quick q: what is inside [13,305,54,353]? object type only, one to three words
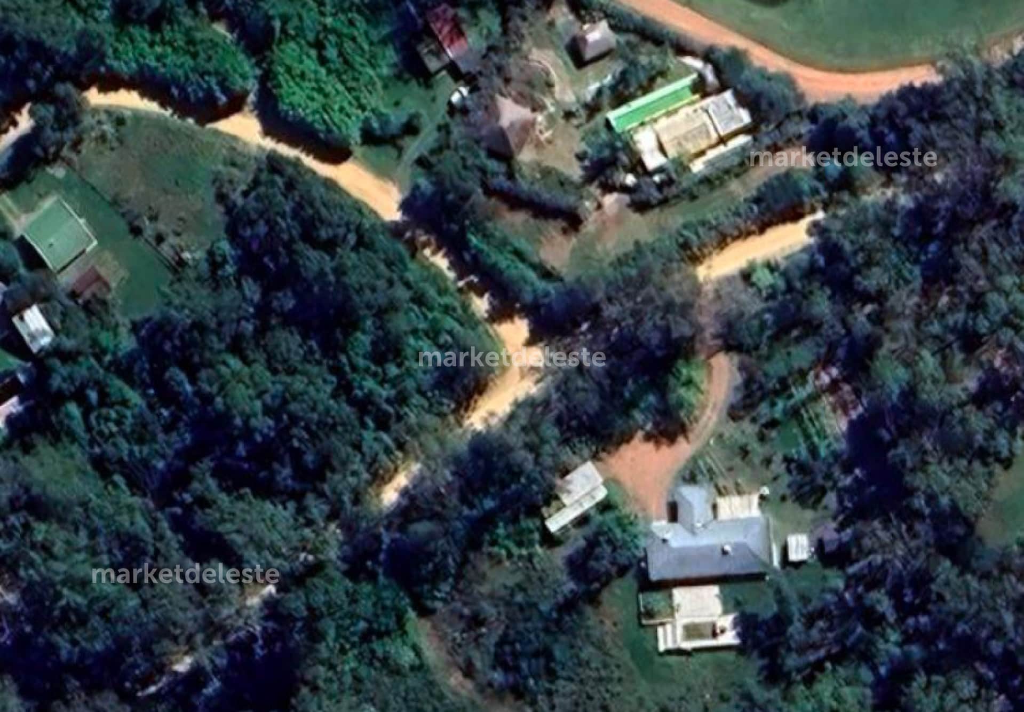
shed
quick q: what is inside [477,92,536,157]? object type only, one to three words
house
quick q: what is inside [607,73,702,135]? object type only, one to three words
building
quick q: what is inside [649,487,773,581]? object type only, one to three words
house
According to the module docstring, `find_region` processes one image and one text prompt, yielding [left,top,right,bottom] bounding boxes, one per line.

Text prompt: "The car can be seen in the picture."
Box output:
[450,86,471,106]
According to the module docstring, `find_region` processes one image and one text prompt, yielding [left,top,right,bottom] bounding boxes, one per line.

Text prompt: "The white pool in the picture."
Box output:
[677,613,741,650]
